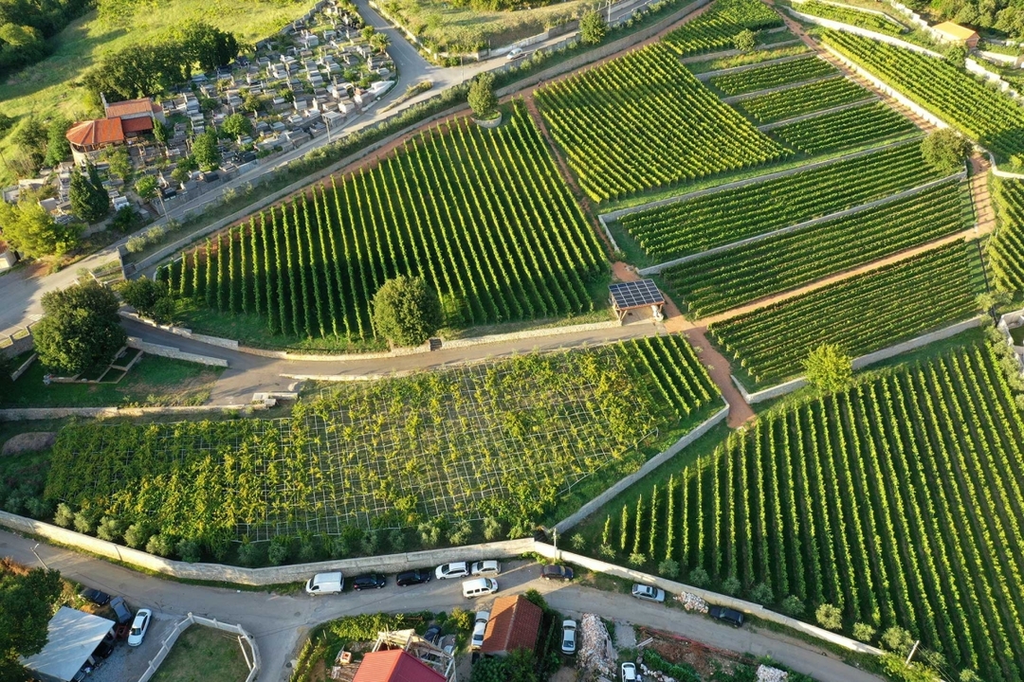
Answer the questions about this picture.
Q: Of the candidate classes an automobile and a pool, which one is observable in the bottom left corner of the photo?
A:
automobile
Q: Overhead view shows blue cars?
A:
Yes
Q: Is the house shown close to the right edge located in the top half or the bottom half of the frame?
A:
top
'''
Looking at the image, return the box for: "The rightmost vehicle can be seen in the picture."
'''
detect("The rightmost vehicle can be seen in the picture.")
[709,606,744,629]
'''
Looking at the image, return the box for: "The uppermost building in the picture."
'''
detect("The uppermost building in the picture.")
[930,19,974,54]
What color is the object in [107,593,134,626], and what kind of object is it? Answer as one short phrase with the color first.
blue car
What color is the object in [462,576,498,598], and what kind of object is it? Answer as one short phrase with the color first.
white vehicle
